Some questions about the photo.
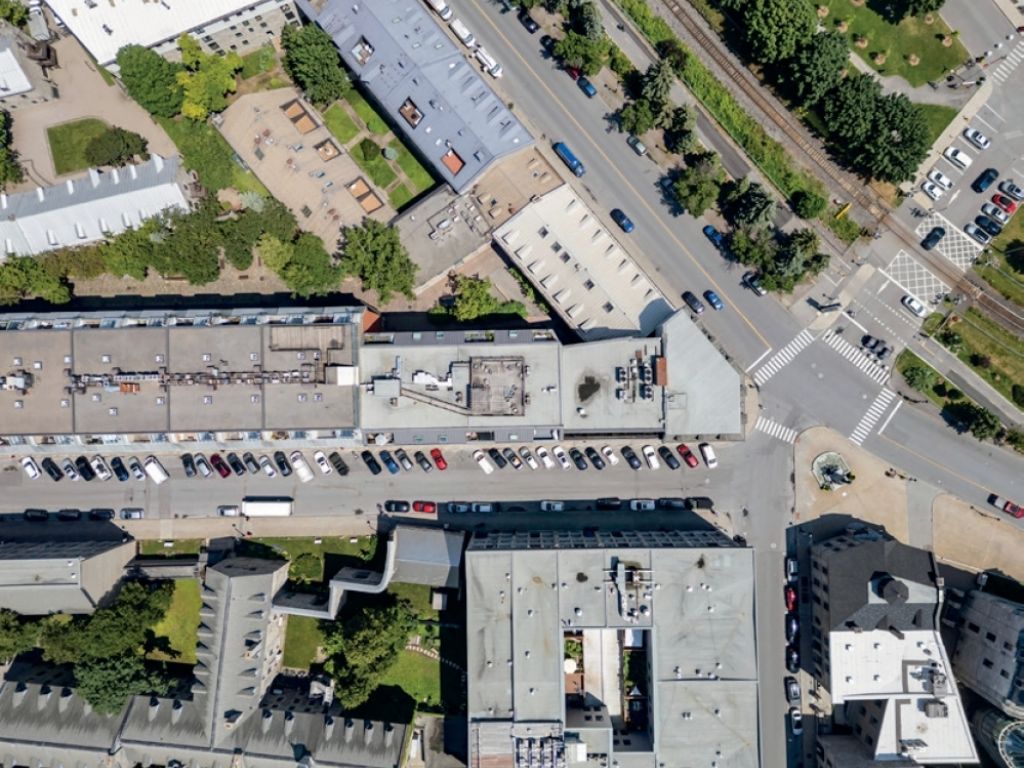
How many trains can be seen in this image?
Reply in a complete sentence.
The photo contains no trains.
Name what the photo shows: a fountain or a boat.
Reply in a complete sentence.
Of the two, only a fountain appears.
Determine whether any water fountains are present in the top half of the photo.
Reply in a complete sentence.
No, in the top half of the photo there is no water fountain.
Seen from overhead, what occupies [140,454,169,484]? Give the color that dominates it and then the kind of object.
white van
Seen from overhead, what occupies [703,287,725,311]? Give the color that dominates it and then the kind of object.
blue car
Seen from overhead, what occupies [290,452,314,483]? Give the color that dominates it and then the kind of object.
white vehicle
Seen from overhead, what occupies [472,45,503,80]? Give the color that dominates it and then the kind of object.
white truck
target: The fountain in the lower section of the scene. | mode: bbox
[813,451,853,492]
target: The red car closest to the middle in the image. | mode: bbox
[430,446,448,471]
